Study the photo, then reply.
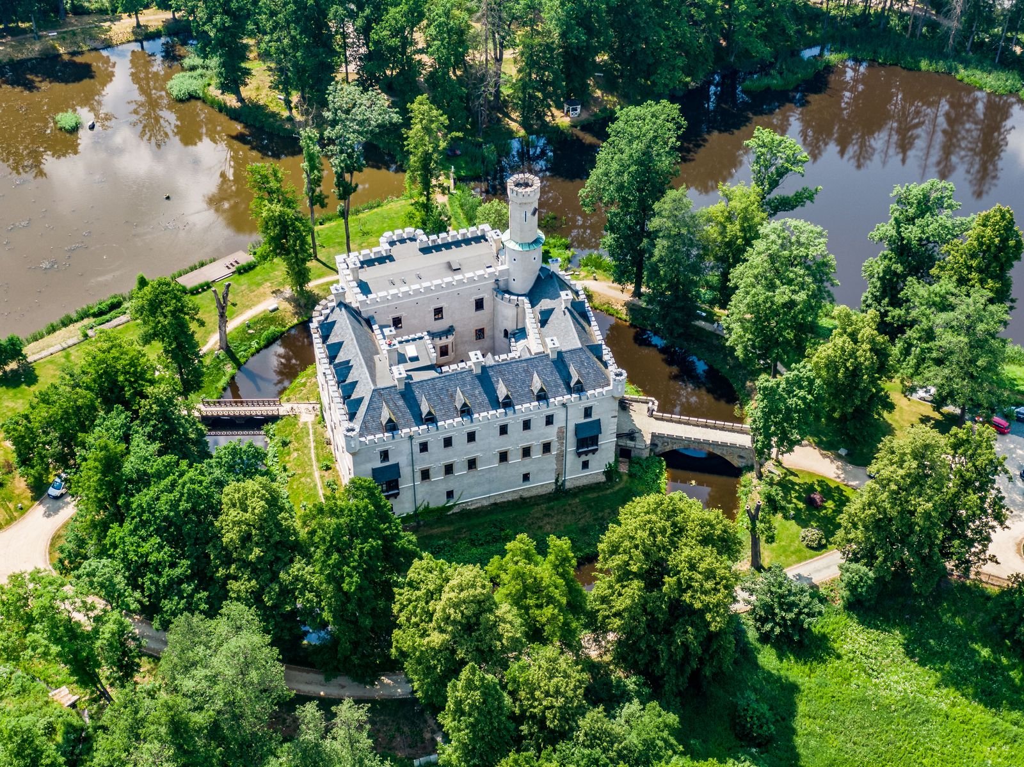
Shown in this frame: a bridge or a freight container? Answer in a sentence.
It is a bridge that can be seen here.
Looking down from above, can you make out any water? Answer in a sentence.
Yes, there is water in the image.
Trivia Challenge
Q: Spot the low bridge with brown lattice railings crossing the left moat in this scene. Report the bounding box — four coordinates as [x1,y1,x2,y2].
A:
[187,395,285,424]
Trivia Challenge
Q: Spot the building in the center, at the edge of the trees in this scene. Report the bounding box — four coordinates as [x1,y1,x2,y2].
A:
[310,175,628,535]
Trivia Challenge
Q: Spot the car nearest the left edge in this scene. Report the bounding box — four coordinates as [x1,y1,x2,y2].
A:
[46,473,68,498]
